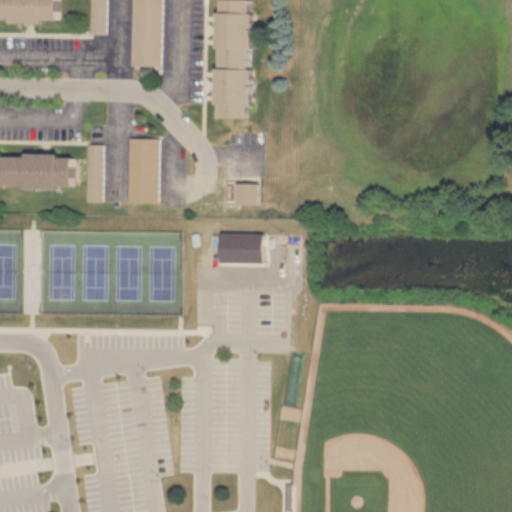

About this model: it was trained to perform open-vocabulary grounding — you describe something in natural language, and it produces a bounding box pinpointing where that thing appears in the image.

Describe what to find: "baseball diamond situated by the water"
[297,304,512,512]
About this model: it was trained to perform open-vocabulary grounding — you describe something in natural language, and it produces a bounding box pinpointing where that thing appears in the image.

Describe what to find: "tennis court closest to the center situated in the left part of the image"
[148,246,177,302]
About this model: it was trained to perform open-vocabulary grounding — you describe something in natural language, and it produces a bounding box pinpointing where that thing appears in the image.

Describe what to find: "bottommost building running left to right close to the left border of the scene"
[0,154,78,190]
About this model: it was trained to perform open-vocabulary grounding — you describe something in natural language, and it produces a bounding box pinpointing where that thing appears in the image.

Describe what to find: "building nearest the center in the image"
[220,234,265,263]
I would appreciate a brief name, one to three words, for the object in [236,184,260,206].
shed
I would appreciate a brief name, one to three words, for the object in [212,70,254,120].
building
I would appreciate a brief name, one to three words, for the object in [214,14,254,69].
building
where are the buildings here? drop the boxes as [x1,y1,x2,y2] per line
[217,0,254,13]
[236,184,260,206]
[212,70,254,120]
[0,0,64,24]
[0,154,78,190]
[214,14,254,69]
[130,138,160,204]
[220,234,265,263]
[132,0,162,70]
[87,146,105,203]
[91,0,108,36]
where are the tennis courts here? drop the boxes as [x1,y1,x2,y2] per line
[0,244,18,299]
[49,244,75,300]
[148,246,177,302]
[83,245,108,301]
[114,246,143,302]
